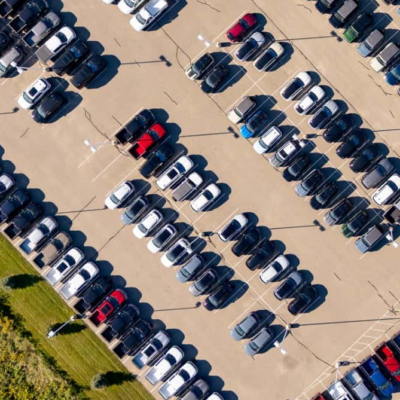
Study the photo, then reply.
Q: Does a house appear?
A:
No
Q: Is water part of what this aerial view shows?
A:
No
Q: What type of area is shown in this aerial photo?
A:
parking lot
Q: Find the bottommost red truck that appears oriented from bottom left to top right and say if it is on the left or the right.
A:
left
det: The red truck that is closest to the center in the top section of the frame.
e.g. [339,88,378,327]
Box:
[125,121,170,162]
